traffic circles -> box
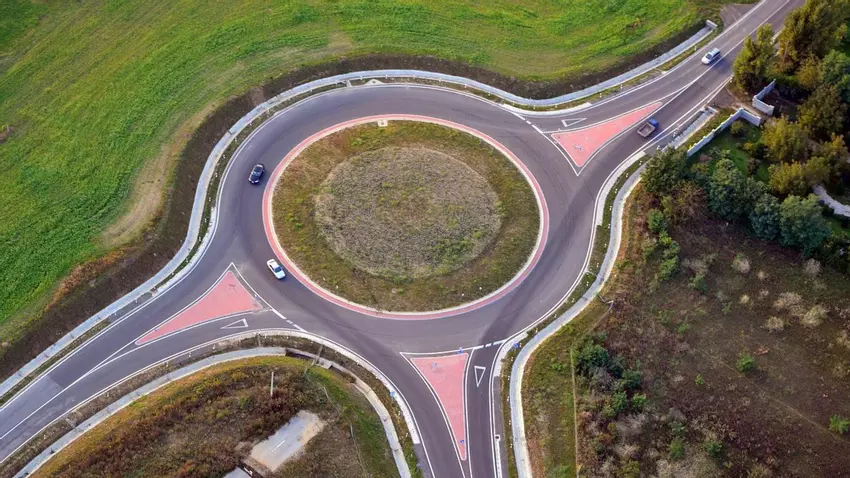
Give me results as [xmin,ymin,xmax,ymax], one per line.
[262,115,550,320]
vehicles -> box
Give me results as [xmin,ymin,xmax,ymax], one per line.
[636,115,662,138]
[251,162,266,181]
[704,47,722,65]
[266,256,286,280]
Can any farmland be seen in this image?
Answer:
Yes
